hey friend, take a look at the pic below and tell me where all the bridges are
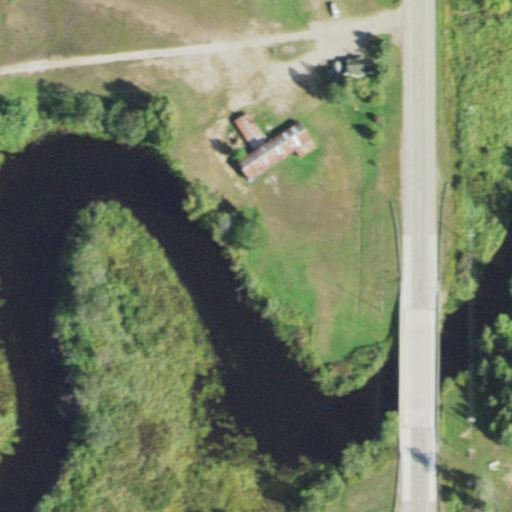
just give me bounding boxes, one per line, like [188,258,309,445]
[398,302,440,431]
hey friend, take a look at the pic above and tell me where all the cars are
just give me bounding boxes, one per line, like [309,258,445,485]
[334,60,342,74]
[331,2,339,18]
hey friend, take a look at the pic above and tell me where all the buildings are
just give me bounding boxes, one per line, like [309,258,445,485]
[235,117,314,179]
[343,60,367,82]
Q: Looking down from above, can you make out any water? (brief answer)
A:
Yes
